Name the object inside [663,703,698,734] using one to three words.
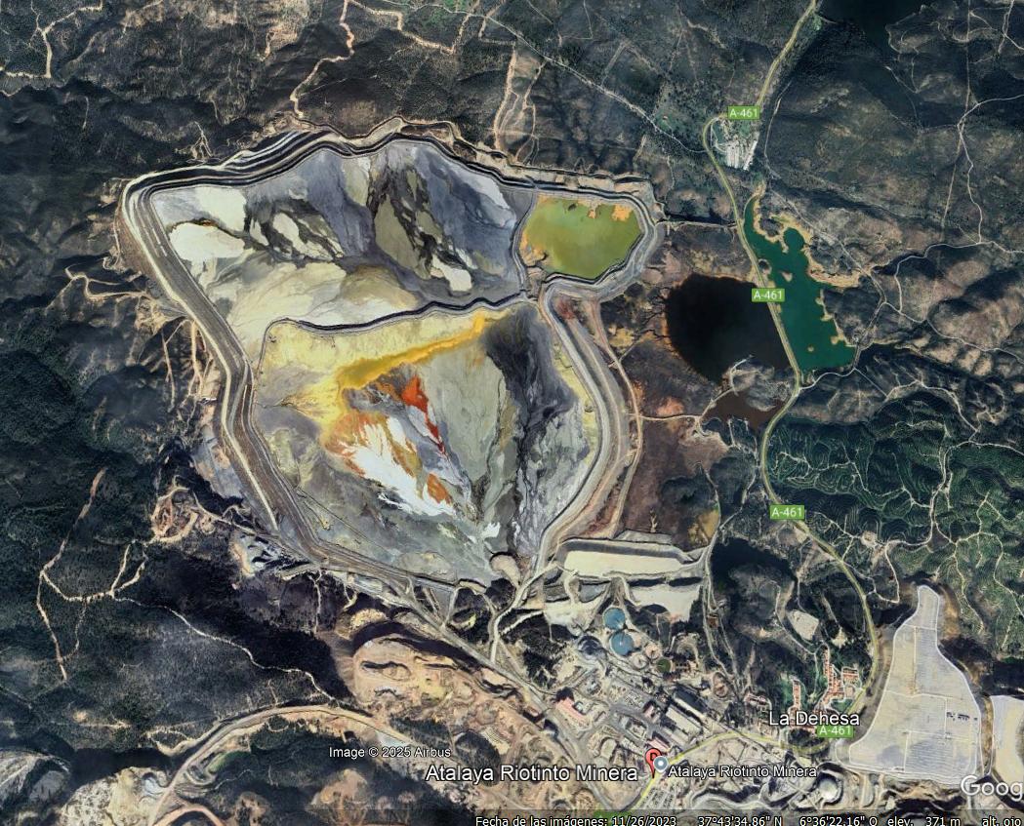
building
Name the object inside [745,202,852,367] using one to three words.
pond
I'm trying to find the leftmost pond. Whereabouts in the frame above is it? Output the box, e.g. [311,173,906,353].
[523,197,640,278]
